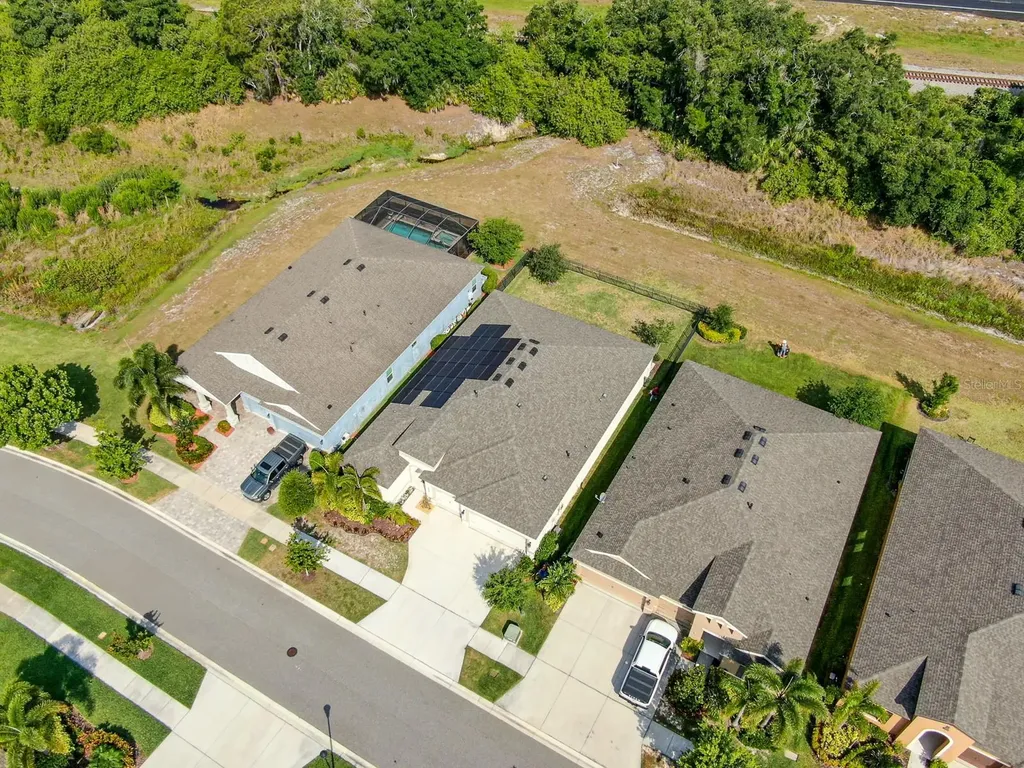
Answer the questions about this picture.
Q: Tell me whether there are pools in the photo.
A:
Yes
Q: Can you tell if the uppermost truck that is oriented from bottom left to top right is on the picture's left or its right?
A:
left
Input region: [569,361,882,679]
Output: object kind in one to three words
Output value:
house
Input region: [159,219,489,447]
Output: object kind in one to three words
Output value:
house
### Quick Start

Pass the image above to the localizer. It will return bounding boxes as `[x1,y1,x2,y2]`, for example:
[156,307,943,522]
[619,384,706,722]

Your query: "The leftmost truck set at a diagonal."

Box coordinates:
[241,439,306,505]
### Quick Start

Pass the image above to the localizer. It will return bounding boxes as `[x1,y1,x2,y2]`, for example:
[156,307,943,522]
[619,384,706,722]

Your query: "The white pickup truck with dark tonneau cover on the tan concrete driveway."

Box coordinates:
[617,614,683,703]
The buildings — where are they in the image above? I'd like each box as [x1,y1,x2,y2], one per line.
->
[840,426,1024,768]
[333,290,656,555]
[569,361,882,679]
[159,219,489,447]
